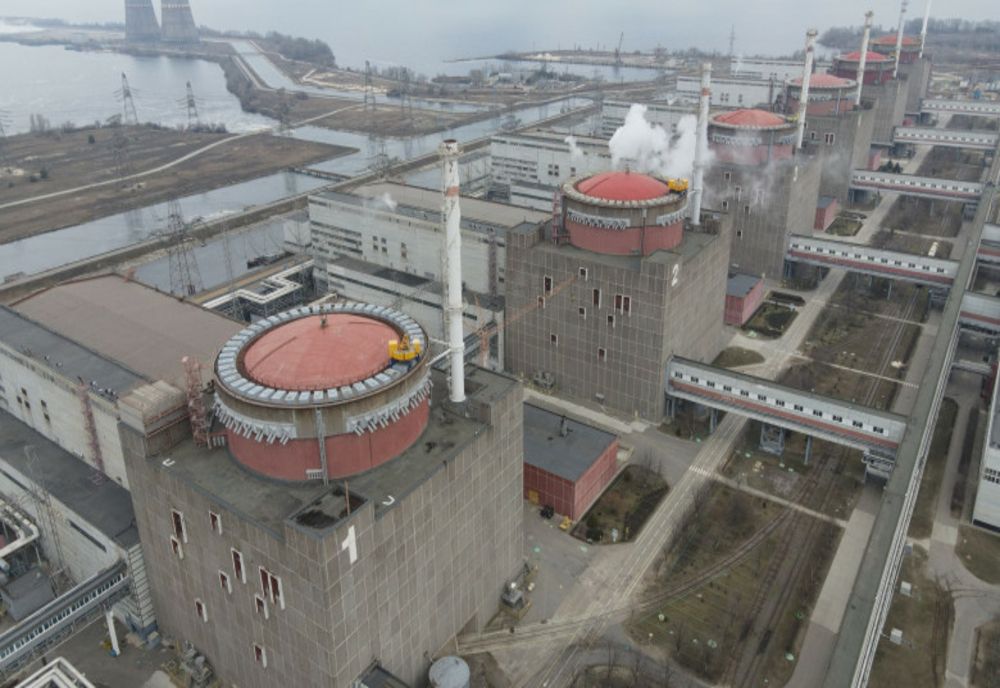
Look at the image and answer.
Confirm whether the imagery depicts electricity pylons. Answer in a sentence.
Yes, I can see an electricity pylon in this picture.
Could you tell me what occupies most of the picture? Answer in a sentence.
The scene is dominated by buildings.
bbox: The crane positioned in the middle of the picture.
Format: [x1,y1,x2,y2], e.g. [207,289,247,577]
[462,280,587,371]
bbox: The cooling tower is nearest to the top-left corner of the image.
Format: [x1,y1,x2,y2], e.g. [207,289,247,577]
[120,0,164,42]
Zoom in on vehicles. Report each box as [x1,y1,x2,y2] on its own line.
[540,508,556,518]
[561,514,572,527]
